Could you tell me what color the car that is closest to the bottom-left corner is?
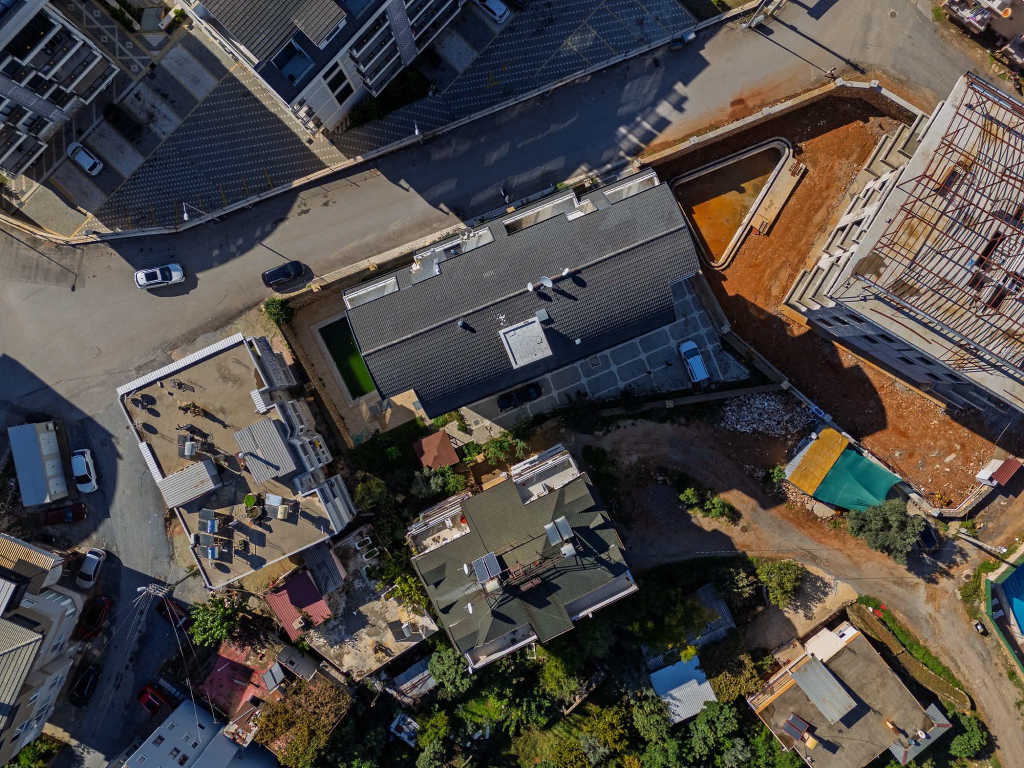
black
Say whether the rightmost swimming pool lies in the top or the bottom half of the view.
bottom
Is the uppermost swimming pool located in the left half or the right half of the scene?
left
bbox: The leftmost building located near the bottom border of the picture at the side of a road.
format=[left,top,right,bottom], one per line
[0,534,95,768]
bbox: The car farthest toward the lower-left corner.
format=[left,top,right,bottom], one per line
[67,661,107,710]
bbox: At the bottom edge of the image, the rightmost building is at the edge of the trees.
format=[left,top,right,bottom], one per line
[746,607,952,768]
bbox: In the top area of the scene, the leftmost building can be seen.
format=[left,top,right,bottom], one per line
[0,0,121,179]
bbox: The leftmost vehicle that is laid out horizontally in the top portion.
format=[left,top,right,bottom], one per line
[134,262,185,289]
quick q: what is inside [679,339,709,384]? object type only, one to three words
vehicle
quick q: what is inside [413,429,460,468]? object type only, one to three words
gazebo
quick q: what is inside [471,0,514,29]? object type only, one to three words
car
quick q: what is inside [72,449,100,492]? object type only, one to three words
car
